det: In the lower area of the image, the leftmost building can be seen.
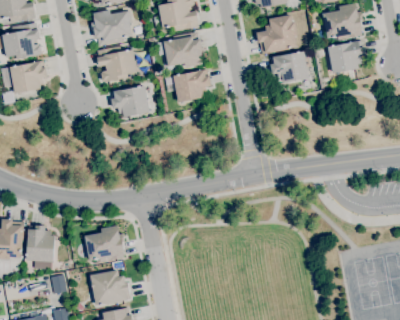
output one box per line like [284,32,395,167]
[0,220,26,260]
